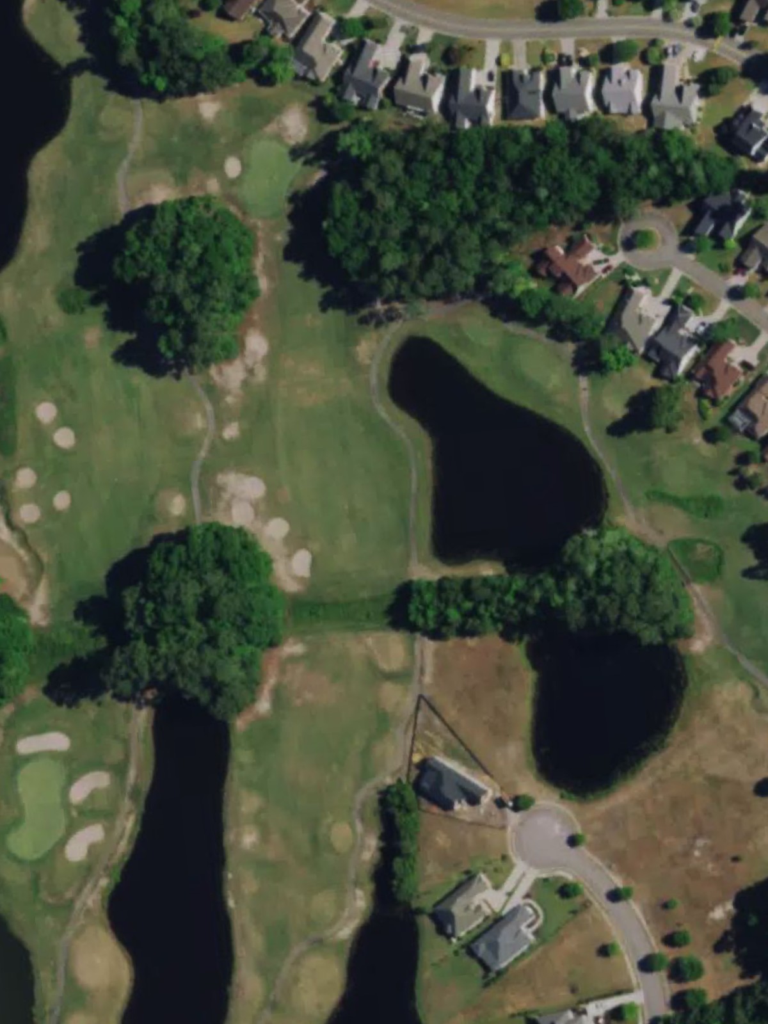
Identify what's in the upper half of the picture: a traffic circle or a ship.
traffic circle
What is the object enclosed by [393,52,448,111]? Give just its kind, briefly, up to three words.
house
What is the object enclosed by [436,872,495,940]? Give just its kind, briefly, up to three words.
house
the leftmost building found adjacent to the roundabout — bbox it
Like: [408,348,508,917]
[543,233,598,298]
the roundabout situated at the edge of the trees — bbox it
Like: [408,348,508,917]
[618,216,678,272]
